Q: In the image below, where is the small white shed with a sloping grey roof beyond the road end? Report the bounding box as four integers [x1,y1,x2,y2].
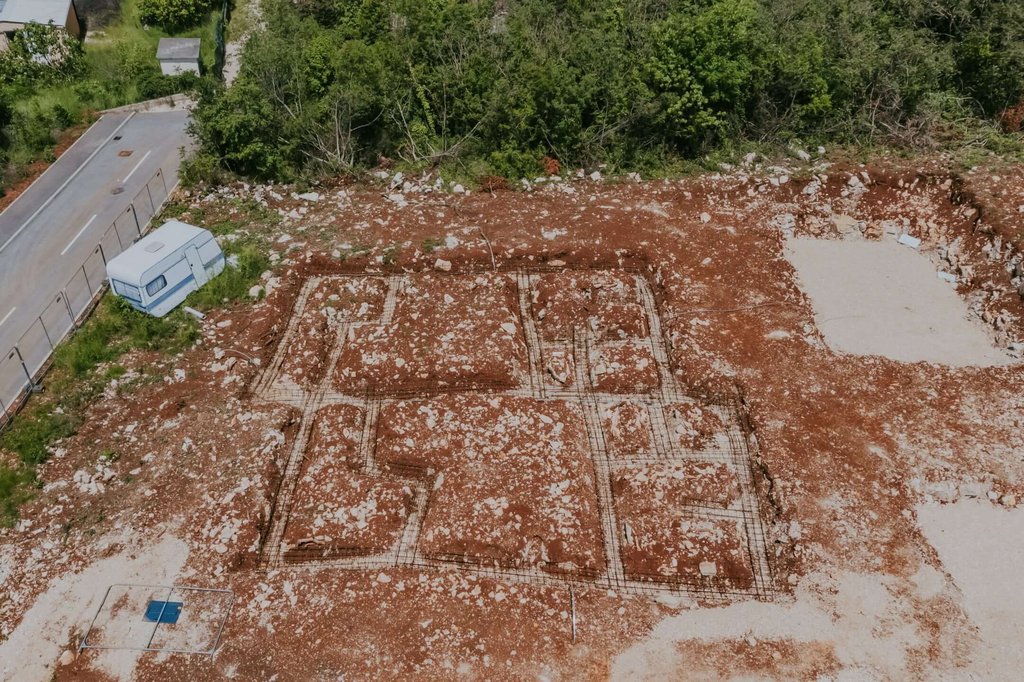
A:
[155,35,210,83]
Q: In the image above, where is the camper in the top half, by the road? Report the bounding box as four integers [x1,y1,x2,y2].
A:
[104,223,224,317]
